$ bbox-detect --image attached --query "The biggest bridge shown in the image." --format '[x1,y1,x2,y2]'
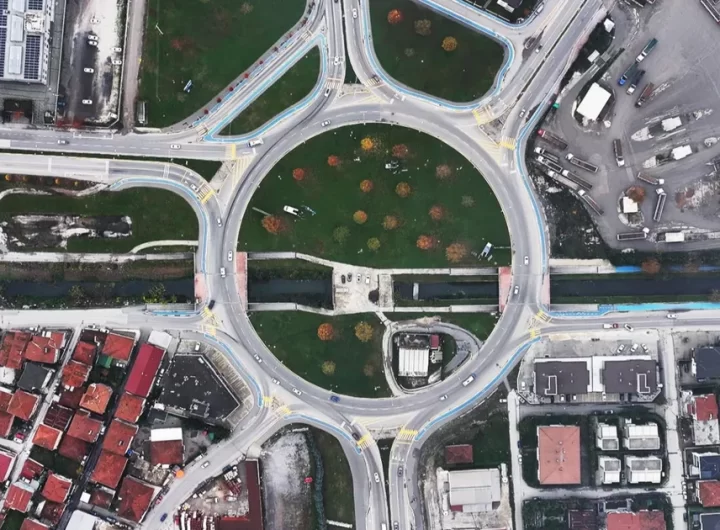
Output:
[333,263,396,315]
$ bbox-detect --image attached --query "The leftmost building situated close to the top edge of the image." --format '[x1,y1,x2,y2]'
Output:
[0,0,53,84]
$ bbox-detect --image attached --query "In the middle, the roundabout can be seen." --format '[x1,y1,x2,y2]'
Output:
[207,93,541,429]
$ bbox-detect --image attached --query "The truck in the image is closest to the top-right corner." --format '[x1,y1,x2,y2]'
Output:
[635,35,662,63]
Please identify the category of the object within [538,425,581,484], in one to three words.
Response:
building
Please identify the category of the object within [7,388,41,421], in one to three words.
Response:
house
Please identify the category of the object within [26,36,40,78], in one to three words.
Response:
solar array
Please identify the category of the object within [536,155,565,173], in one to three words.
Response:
vehicle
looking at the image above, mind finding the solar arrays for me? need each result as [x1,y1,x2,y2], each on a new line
[26,36,40,78]
[29,0,42,10]
[0,28,6,77]
[0,0,8,25]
